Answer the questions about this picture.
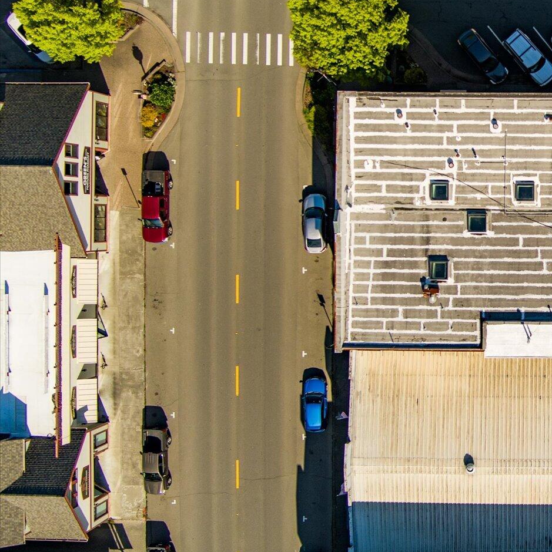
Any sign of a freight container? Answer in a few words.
No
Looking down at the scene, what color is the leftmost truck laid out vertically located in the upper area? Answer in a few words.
red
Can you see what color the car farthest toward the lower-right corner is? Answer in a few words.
blue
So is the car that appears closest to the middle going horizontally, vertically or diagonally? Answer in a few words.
vertically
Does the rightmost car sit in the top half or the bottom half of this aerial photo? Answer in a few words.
top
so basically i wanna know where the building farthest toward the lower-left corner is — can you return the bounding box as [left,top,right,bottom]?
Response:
[0,423,109,551]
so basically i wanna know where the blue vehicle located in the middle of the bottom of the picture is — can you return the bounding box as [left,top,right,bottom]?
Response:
[300,375,328,434]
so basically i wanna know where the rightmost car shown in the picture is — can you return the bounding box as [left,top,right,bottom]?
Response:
[504,25,552,90]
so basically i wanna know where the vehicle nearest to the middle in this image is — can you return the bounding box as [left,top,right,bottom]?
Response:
[300,193,328,254]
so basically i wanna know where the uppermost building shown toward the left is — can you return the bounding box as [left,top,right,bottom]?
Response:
[0,83,110,254]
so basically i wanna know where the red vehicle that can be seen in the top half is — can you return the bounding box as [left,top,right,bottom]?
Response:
[139,169,173,243]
